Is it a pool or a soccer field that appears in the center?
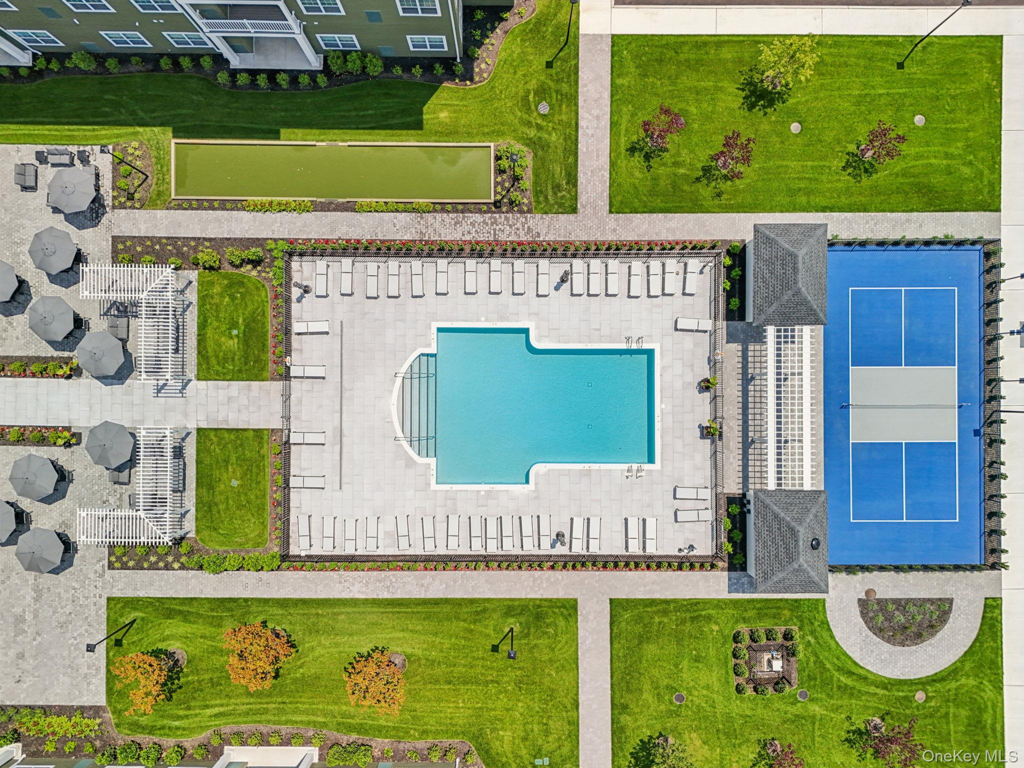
pool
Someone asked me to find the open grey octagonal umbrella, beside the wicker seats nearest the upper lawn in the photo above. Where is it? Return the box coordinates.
[50,166,98,215]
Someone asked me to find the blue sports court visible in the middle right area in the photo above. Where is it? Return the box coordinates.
[824,245,984,565]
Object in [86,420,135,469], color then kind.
gray umbrella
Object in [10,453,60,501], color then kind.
gray umbrella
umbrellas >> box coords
[293,282,311,293]
[556,531,566,546]
[77,330,126,378]
[29,226,79,276]
[560,271,569,283]
[16,525,66,574]
[86,420,135,469]
[27,293,78,343]
[10,453,60,501]
[50,166,98,215]
[0,498,20,541]
[0,257,23,304]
